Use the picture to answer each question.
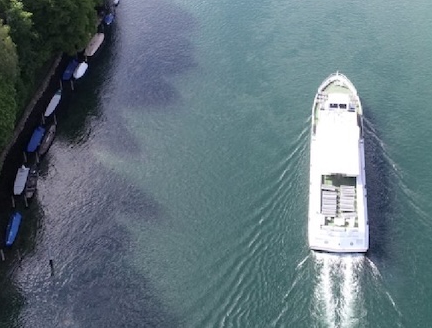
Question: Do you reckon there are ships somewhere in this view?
Yes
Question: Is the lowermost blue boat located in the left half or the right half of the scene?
left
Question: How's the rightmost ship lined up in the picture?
up and down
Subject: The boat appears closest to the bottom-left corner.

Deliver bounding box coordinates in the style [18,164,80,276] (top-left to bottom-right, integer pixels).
[1,209,22,246]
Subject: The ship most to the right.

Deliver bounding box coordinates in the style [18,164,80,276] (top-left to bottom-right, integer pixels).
[308,68,369,260]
